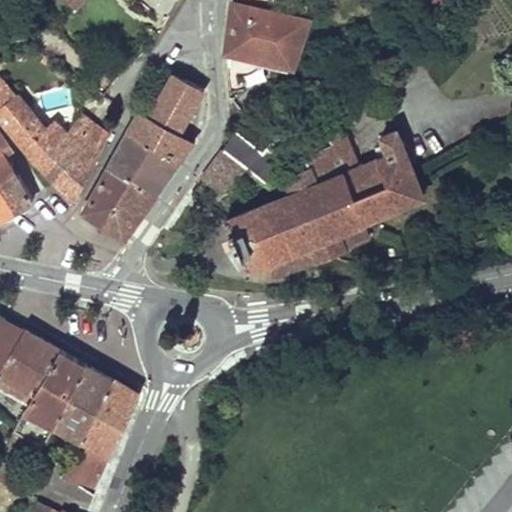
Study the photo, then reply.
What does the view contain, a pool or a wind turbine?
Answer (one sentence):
This aerial view contains a pool.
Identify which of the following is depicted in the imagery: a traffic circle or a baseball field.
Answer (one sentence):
Looking from above, you can make out a traffic circle.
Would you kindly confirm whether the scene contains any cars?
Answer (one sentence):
Yes, looking at the shot, I can spot a car.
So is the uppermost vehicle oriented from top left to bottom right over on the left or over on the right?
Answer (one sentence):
You can find the uppermost vehicle oriented from top left to bottom right on the right side of the picture.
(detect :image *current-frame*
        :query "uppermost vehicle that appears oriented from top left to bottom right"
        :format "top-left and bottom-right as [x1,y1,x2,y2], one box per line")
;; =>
[424,129,446,156]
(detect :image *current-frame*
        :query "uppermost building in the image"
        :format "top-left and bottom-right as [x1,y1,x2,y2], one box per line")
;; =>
[222,2,312,74]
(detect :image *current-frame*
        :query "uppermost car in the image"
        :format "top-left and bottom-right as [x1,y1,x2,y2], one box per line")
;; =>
[165,42,183,64]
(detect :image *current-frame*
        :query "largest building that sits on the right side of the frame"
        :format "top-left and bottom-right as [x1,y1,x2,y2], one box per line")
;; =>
[229,173,427,278]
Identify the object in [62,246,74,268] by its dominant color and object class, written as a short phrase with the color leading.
white vehicle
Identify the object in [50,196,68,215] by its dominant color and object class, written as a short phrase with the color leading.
white car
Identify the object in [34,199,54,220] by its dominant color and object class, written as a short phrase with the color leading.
white car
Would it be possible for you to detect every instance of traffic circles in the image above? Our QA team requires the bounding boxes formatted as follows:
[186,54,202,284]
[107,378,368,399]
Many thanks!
[112,250,252,422]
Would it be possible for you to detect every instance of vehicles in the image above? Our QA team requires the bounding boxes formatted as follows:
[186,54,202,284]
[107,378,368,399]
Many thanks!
[82,317,92,335]
[13,216,35,234]
[172,362,194,373]
[376,290,396,302]
[69,314,78,334]
[62,246,74,268]
[50,196,68,215]
[424,129,446,156]
[165,42,183,64]
[34,199,54,220]
[96,320,106,342]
